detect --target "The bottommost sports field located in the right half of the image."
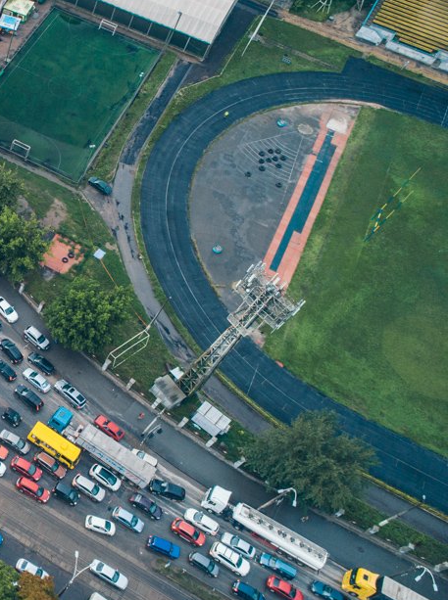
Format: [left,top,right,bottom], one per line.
[268,103,448,453]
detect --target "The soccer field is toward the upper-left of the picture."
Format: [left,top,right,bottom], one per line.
[0,8,161,180]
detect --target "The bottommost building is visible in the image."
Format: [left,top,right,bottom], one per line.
[188,402,231,441]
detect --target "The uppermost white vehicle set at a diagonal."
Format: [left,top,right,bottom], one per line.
[0,296,20,325]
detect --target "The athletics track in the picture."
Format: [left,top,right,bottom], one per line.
[139,56,448,509]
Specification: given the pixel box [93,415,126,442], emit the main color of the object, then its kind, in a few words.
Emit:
red car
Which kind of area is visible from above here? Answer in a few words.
sports ground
